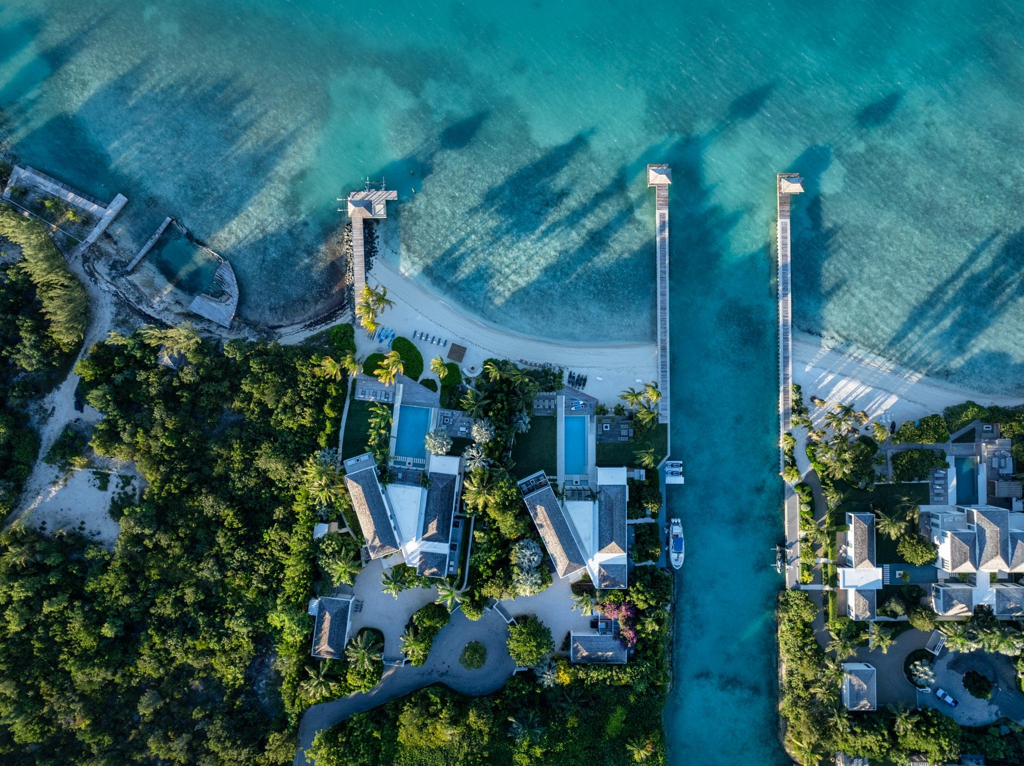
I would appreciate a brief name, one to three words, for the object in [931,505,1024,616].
house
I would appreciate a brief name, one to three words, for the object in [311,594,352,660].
building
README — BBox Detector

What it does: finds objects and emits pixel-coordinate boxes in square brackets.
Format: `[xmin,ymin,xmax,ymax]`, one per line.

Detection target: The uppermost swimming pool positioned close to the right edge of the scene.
[946,456,987,505]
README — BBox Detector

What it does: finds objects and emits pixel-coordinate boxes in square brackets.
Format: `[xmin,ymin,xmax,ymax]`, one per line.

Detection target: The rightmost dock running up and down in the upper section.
[775,172,799,432]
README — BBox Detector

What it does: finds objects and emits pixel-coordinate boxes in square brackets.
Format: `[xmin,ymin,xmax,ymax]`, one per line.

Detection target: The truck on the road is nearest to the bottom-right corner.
[933,686,961,712]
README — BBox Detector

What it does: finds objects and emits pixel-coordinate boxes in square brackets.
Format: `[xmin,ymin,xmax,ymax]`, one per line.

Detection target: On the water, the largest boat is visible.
[670,520,684,570]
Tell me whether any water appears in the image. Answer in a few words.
Yes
